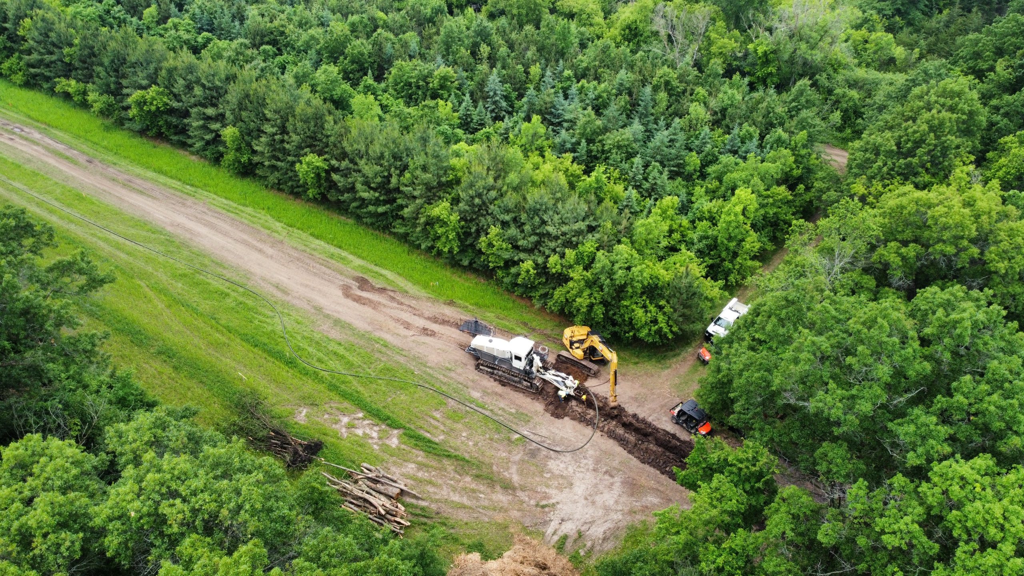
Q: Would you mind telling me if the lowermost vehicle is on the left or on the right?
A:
right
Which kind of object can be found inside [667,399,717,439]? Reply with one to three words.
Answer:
vehicle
